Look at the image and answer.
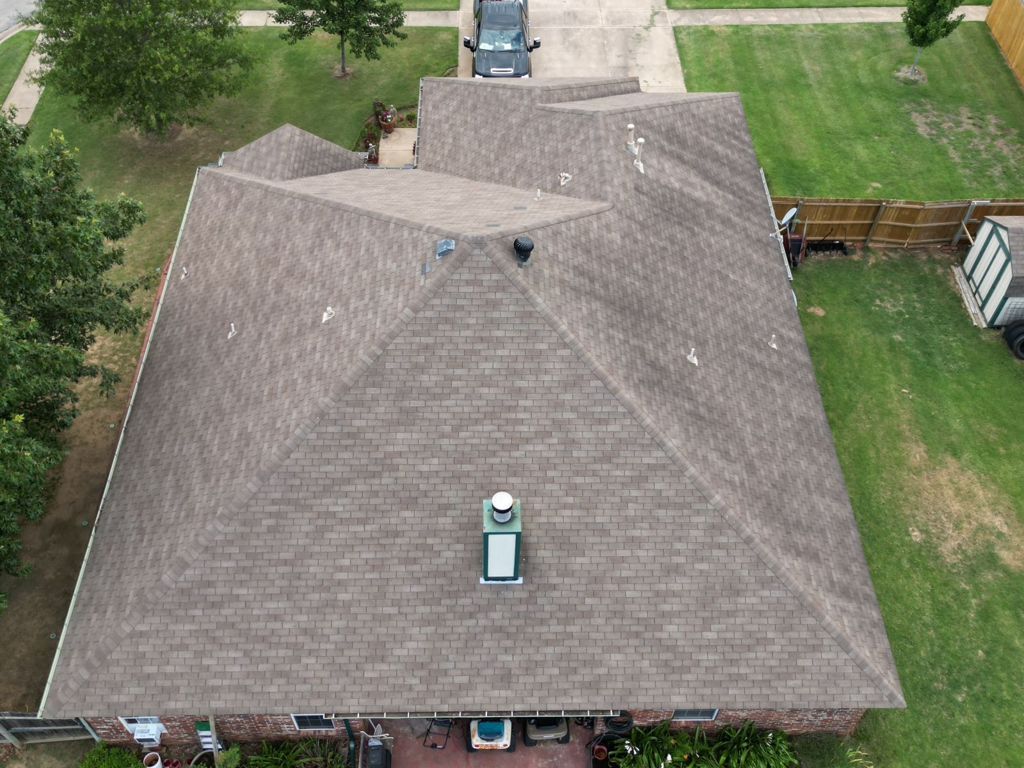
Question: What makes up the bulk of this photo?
buildings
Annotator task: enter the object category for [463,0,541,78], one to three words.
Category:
truck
